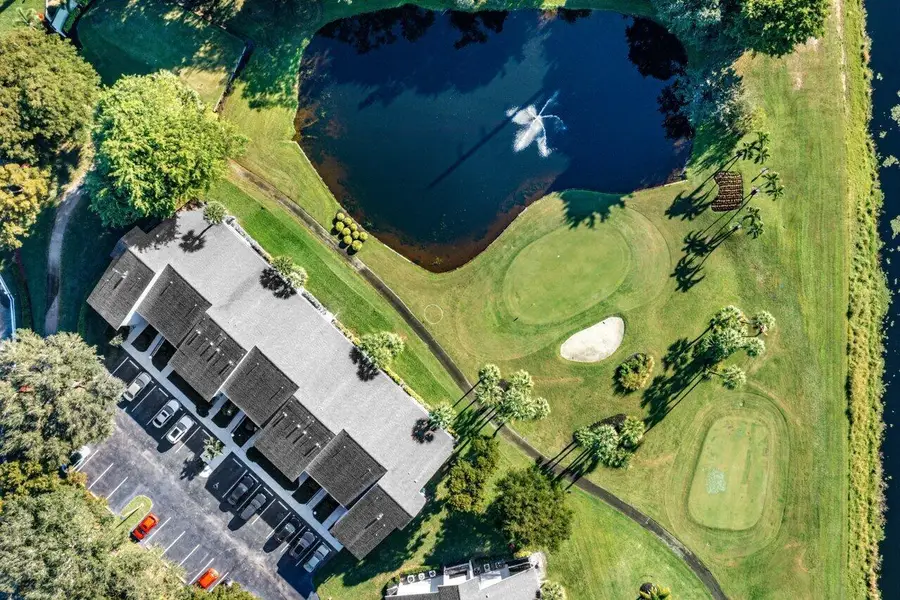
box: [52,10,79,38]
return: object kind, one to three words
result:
shed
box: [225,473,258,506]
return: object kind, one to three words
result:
car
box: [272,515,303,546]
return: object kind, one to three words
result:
car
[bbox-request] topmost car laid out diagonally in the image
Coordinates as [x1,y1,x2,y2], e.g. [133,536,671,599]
[120,371,154,403]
